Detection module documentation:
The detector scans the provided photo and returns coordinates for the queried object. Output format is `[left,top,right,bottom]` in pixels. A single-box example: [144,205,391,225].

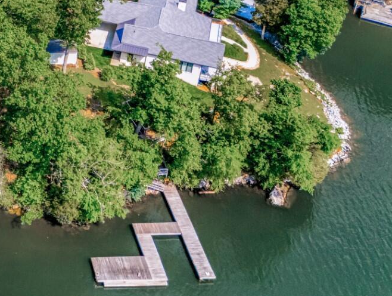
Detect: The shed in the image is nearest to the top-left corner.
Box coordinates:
[49,40,79,64]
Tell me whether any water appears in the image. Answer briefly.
Yes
